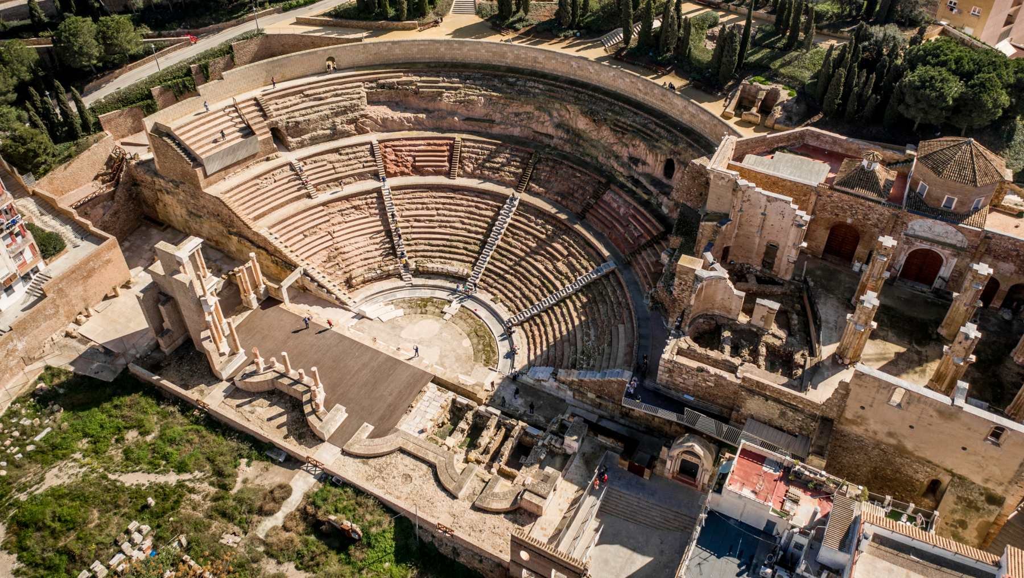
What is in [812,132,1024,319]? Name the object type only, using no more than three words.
church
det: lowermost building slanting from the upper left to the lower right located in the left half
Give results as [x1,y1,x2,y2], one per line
[153,236,563,518]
